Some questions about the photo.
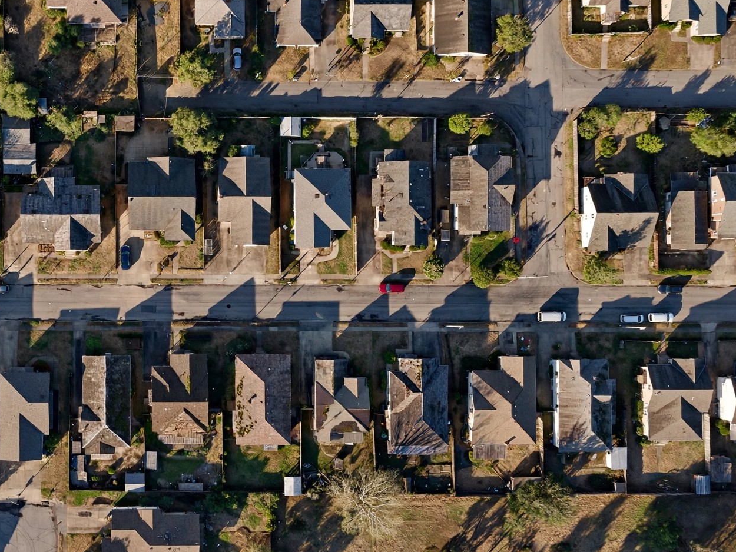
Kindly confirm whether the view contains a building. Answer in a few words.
Yes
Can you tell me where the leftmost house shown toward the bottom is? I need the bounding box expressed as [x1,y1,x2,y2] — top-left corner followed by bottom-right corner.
[0,371,58,464]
